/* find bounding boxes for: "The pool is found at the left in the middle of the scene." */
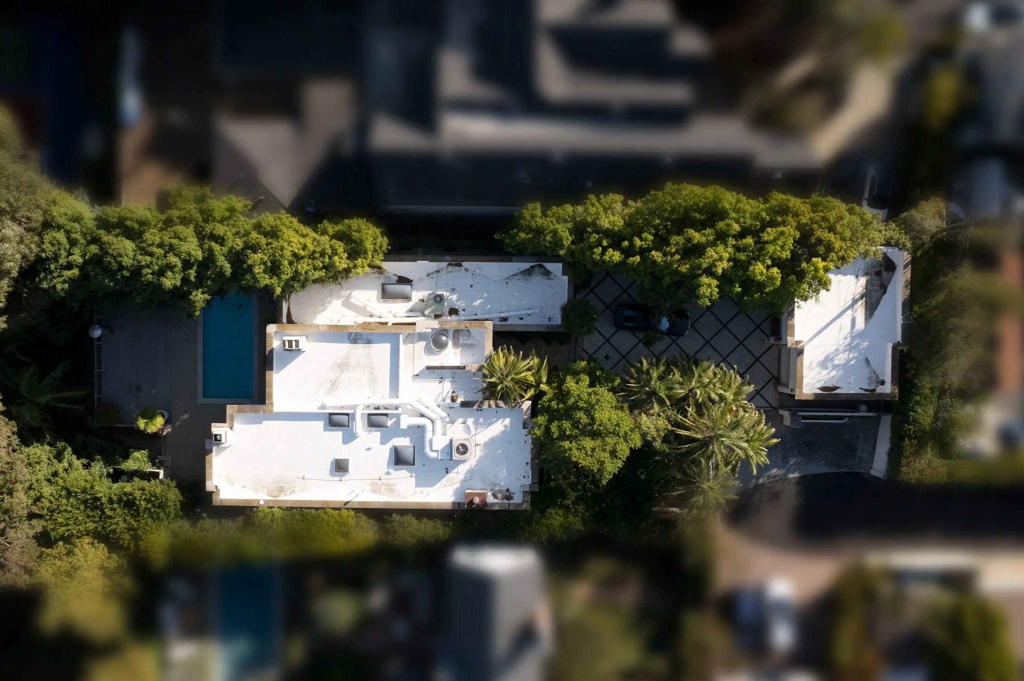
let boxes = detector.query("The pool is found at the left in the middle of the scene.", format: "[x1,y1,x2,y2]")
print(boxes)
[198,279,260,404]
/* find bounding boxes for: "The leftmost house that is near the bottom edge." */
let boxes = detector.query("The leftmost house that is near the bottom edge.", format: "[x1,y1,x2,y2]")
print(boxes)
[440,530,551,681]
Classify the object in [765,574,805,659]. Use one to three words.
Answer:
car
